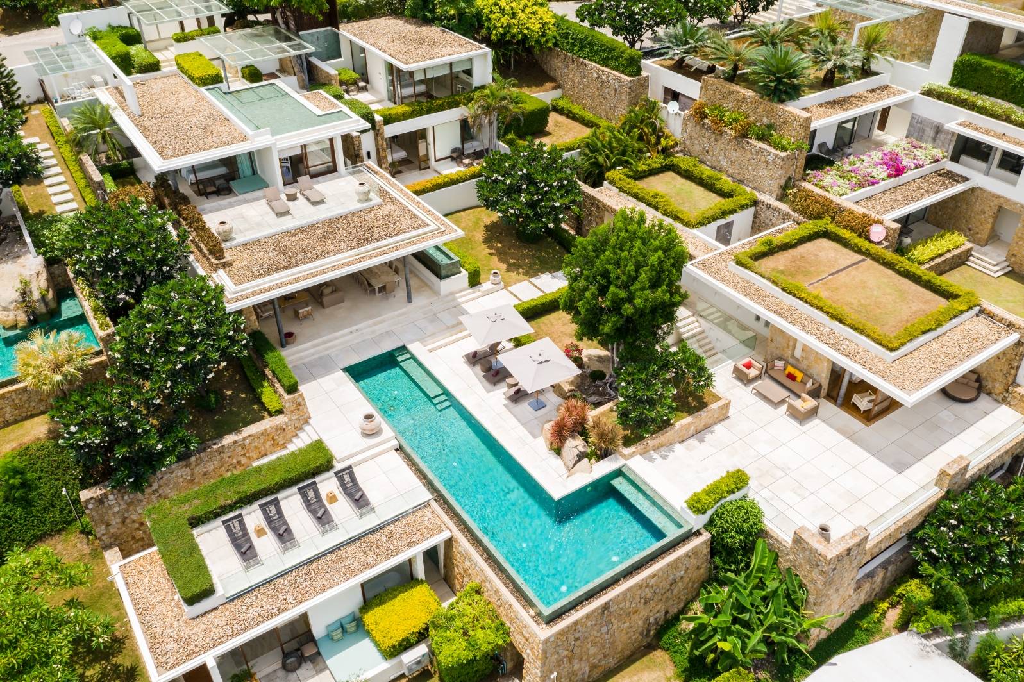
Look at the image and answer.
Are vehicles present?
No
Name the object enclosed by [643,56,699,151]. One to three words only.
shed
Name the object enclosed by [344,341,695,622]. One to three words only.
swimming pool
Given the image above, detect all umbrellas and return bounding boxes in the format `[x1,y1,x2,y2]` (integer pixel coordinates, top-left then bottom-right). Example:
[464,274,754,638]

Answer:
[494,340,582,410]
[454,305,536,369]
